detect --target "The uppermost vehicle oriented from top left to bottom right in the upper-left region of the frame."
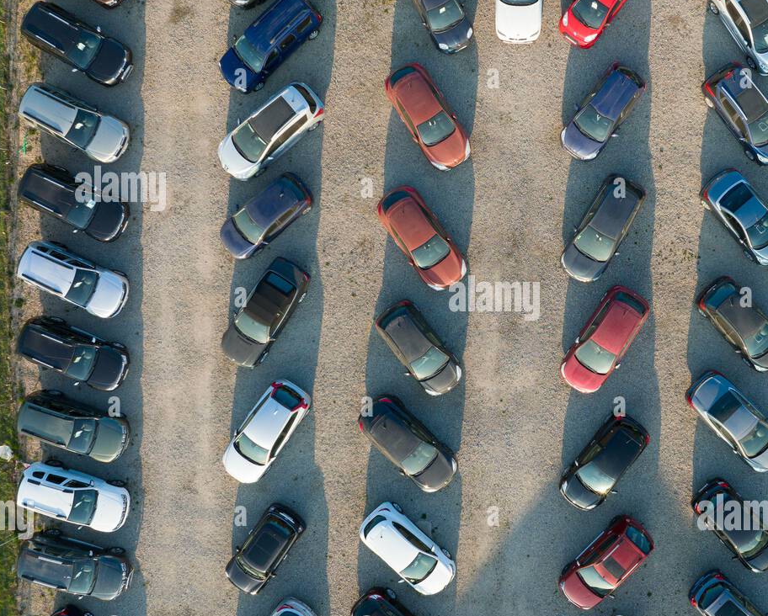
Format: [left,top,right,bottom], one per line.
[20,0,134,87]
